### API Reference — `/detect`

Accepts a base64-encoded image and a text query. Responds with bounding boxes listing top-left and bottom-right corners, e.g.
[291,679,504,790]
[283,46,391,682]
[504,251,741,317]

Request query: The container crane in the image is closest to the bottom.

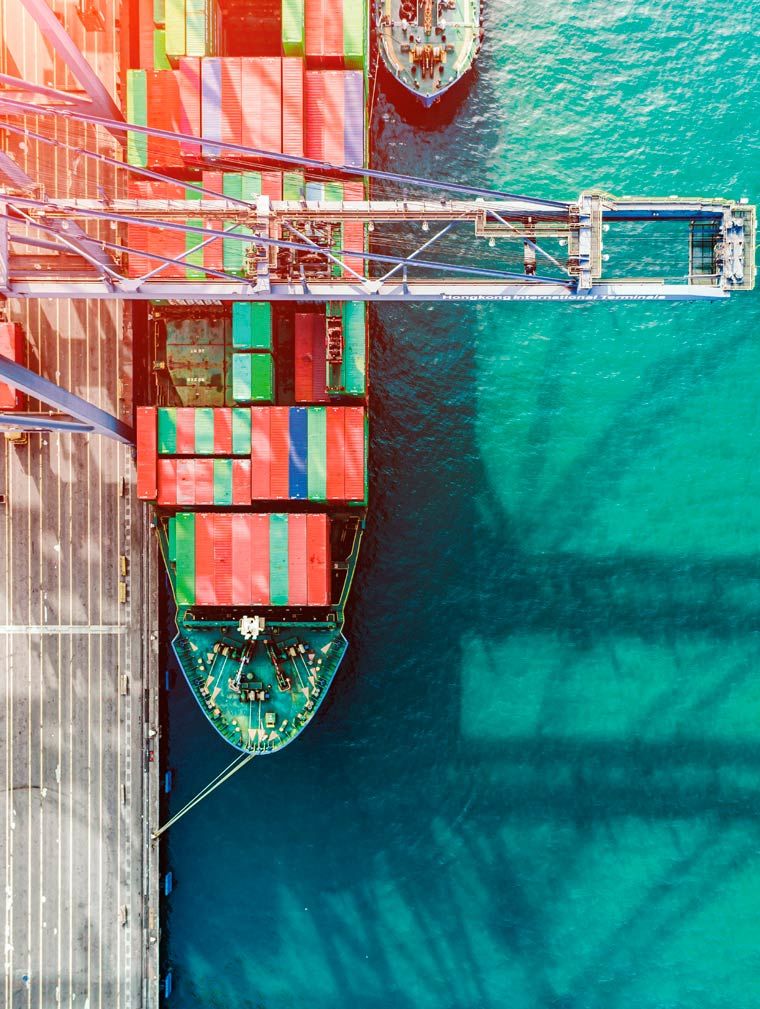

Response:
[0,97,759,449]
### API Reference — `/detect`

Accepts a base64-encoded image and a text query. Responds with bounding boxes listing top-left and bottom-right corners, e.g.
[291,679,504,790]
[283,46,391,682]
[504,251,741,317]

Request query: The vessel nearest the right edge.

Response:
[378,0,480,107]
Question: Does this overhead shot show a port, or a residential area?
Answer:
port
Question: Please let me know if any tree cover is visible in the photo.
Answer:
No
